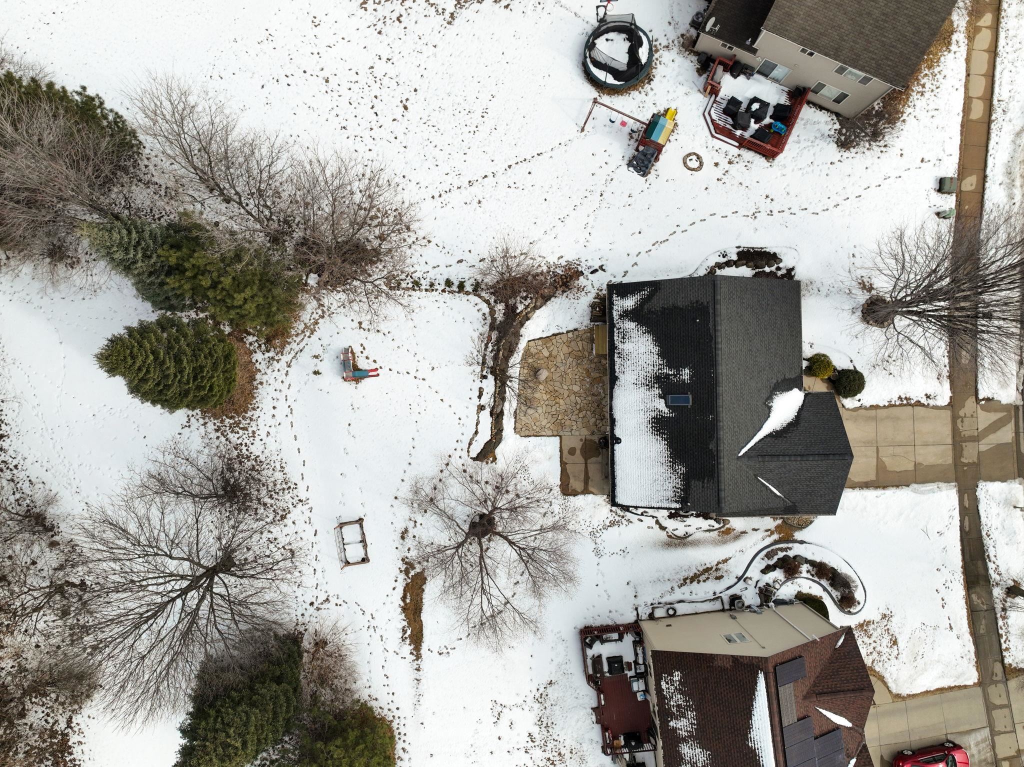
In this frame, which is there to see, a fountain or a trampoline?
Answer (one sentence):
I can see a trampoline in this picture.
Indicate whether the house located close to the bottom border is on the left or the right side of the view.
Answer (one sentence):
The house located close to the bottom border appears in the right half of the scene.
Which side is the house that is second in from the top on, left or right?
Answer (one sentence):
The house that is second in from the top is on the right side of the image.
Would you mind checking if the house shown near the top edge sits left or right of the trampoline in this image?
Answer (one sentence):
From the viewer's perspective, the house shown near the top edge falls to the right of the trampoline.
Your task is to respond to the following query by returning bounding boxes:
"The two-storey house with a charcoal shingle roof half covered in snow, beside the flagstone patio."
[602,275,857,517]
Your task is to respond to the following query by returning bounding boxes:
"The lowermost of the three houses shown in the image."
[643,605,879,767]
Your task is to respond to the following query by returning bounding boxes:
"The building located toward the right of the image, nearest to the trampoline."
[694,0,957,119]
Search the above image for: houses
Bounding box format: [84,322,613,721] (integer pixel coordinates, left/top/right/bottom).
[643,605,879,767]
[602,275,857,517]
[694,0,957,119]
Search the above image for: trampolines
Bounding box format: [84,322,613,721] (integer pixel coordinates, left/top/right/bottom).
[584,13,653,92]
